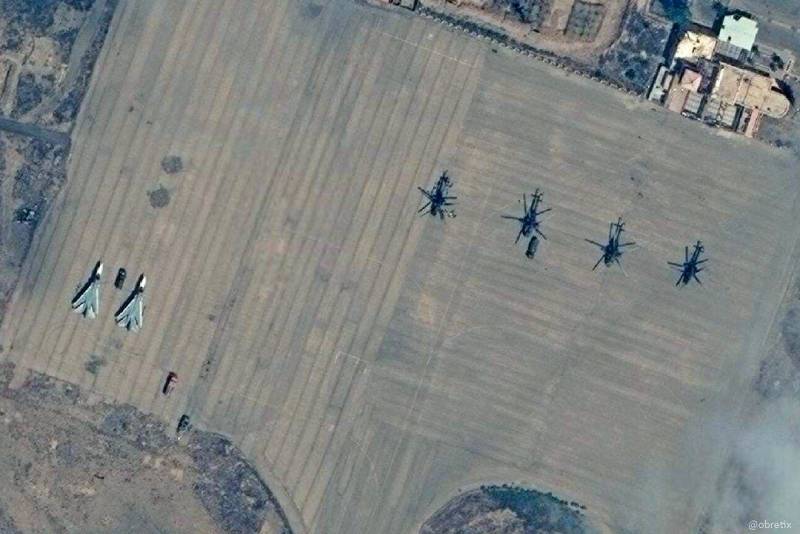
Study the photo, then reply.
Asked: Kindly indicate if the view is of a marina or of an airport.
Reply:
airport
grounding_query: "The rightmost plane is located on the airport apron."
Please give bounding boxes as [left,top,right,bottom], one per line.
[116,276,145,331]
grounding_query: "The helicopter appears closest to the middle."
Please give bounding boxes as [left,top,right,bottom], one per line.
[421,177,461,224]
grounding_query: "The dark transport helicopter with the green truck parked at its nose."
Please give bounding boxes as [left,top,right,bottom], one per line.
[505,193,555,249]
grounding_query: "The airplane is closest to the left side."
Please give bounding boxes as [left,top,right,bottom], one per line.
[73,264,102,319]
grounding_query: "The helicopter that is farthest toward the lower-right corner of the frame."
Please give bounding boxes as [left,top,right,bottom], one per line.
[671,244,712,291]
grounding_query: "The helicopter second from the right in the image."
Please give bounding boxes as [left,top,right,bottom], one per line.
[589,222,639,278]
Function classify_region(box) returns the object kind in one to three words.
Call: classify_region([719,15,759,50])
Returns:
house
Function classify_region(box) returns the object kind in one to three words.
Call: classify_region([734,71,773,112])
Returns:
building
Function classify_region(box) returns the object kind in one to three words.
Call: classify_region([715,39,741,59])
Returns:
shed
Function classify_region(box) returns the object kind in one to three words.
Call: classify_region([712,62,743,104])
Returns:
building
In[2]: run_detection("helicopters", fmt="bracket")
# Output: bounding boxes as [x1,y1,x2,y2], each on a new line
[589,222,639,278]
[505,193,555,249]
[421,177,461,224]
[671,244,712,291]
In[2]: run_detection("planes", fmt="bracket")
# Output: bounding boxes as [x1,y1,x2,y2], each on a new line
[73,264,102,319]
[116,276,145,331]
